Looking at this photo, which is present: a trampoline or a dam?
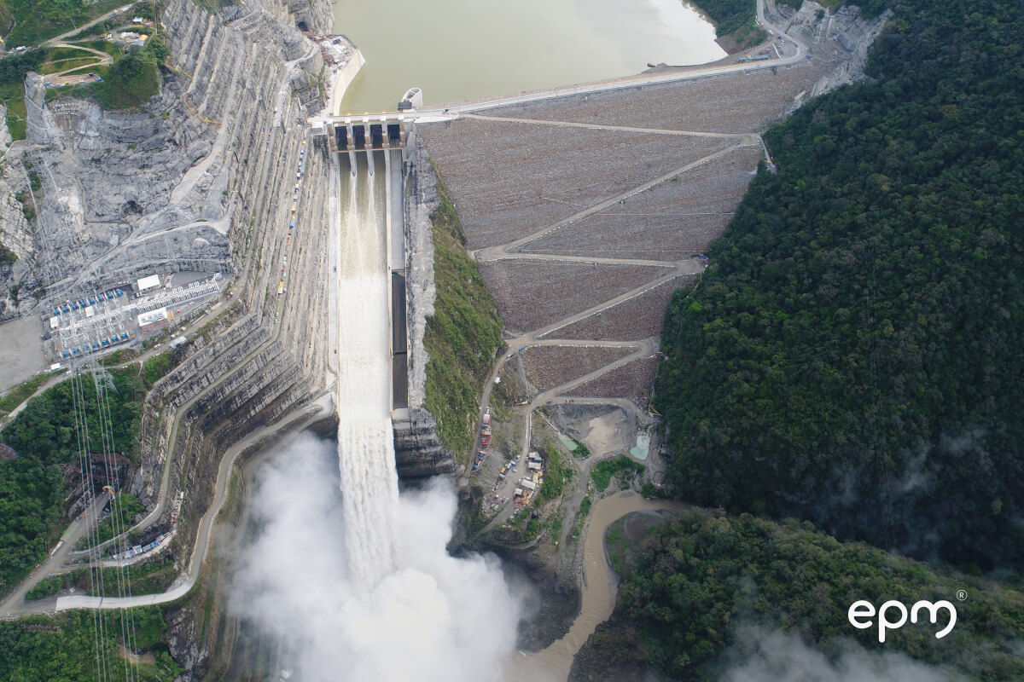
dam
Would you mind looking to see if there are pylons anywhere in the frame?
Yes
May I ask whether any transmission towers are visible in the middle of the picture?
No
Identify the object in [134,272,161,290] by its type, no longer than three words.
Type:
building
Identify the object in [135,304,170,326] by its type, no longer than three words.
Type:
building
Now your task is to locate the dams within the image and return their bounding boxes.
[415,55,829,405]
